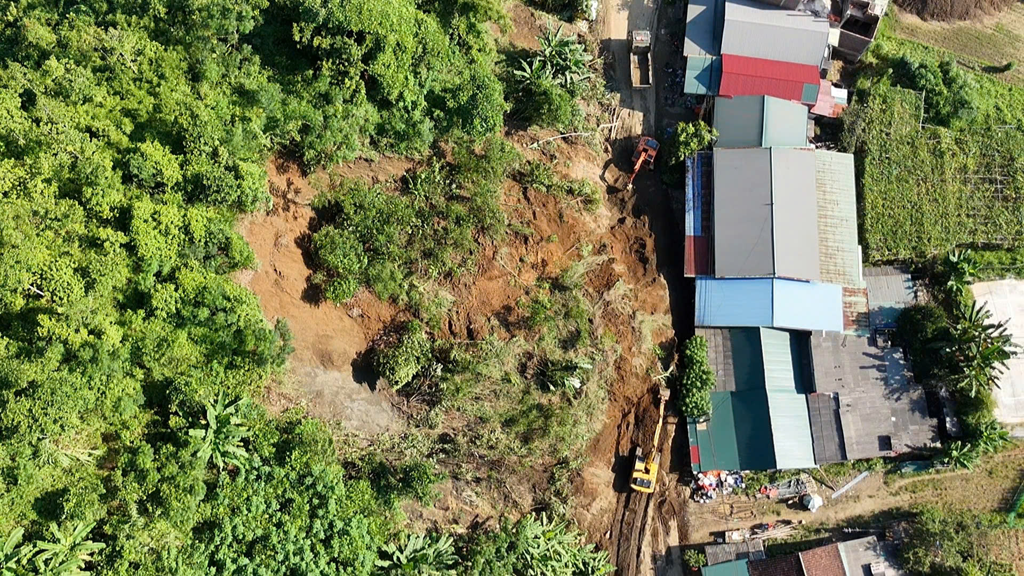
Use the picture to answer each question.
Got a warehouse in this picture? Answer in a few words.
Yes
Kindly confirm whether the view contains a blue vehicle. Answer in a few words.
No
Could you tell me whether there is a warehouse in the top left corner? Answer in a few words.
No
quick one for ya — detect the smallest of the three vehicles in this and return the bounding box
[627,134,661,186]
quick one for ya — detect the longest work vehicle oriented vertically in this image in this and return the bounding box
[627,394,666,497]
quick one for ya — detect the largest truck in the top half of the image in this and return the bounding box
[628,27,653,89]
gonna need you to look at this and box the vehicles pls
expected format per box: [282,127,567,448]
[628,27,653,89]
[627,134,661,186]
[627,394,666,497]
